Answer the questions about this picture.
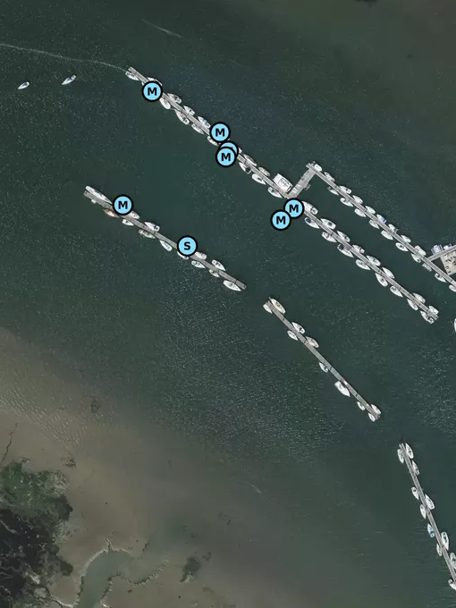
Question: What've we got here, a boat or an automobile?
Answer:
boat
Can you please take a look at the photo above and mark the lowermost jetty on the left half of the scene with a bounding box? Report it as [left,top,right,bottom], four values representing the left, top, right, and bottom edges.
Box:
[84,191,246,289]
